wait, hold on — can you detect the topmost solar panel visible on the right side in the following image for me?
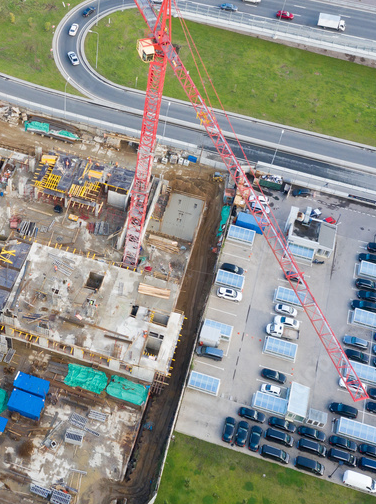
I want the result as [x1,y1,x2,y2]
[228,226,255,243]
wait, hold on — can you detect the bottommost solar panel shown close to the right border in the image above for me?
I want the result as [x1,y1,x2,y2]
[340,417,376,443]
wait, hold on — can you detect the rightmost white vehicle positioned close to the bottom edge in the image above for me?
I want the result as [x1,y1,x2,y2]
[343,467,376,492]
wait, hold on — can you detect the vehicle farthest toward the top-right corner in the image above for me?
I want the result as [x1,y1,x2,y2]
[316,10,346,27]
